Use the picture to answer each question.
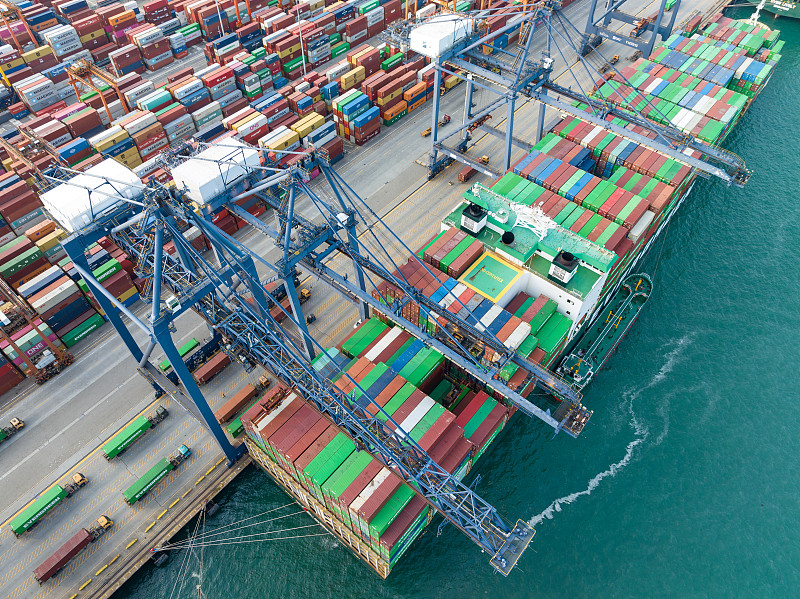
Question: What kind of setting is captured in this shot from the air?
port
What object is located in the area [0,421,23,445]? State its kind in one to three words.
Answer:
truck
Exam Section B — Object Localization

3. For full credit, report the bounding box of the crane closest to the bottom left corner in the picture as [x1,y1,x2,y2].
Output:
[0,284,70,385]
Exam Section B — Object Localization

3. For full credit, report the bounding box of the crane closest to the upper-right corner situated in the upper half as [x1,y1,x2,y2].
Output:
[566,0,684,69]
